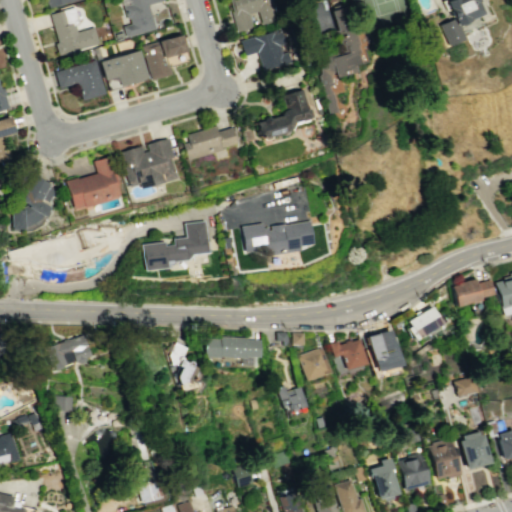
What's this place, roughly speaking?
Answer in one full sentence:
This looks like a residential area.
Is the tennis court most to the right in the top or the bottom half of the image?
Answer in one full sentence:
The tennis court most to the right is in the top half of the image.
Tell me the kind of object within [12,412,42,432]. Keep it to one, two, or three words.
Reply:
building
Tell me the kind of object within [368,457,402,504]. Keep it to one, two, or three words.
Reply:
house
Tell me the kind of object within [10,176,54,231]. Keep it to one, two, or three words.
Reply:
house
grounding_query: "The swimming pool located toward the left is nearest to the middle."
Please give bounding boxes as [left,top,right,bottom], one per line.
[132,186,158,199]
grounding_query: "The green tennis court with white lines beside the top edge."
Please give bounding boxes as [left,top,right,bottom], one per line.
[370,0,409,26]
